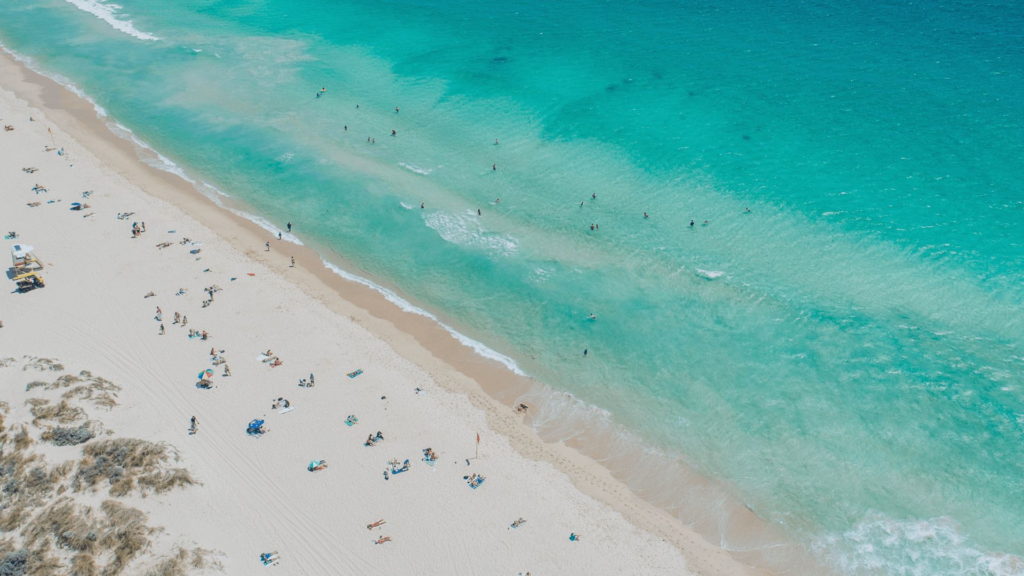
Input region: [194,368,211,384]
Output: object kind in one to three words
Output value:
umbrella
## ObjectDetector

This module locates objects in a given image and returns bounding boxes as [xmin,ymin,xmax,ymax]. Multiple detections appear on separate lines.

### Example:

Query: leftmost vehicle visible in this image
[8,275,45,297]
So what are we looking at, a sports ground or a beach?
beach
